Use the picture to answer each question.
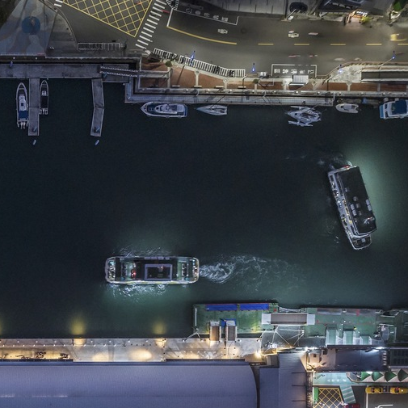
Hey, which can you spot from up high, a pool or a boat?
boat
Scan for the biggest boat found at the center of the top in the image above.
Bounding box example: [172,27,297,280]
[141,101,187,118]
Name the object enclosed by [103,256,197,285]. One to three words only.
vessel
